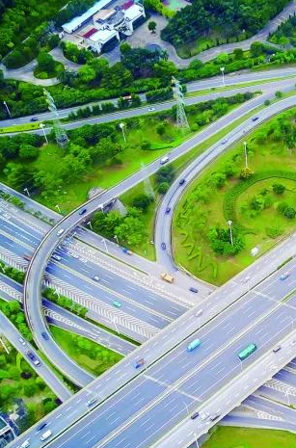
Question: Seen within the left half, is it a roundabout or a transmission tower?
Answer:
transmission tower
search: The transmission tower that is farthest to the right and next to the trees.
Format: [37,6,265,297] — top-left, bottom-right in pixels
[168,76,192,129]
